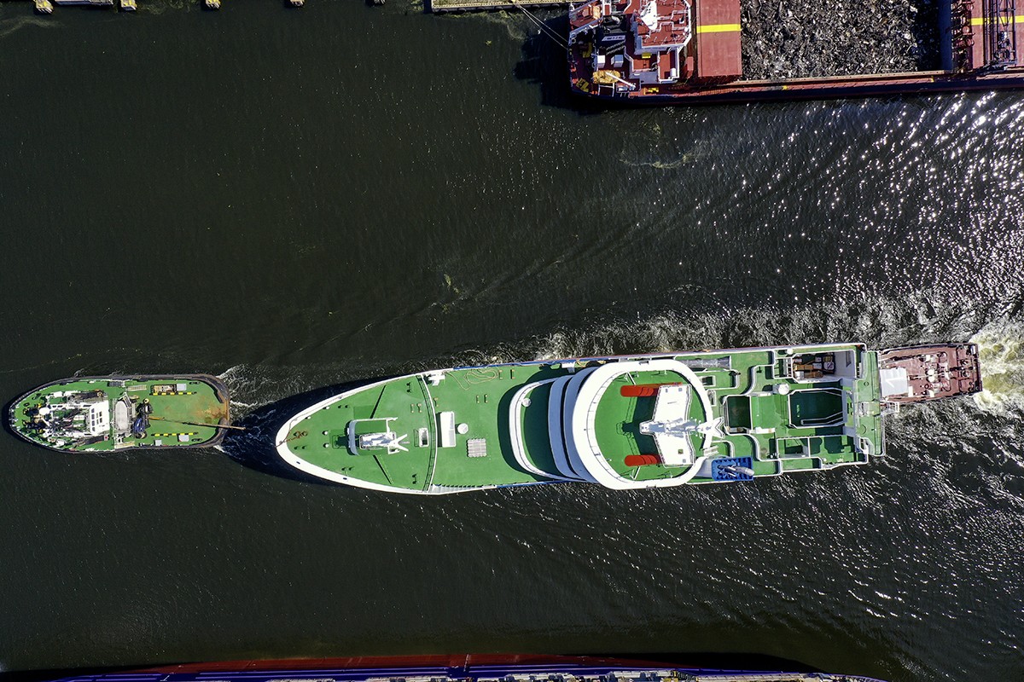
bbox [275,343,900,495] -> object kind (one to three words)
ship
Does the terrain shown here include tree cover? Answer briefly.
No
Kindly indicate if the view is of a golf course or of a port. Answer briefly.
port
